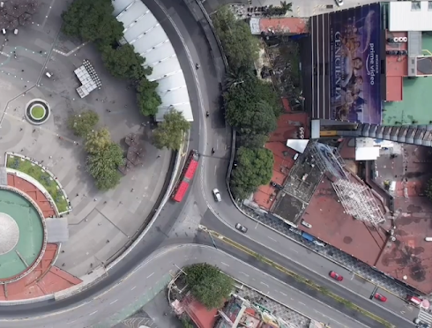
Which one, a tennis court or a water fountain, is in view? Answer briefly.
water fountain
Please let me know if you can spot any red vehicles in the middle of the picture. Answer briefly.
Yes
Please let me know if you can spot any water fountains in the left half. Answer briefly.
Yes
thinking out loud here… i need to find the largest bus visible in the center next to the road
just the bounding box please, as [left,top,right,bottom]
[169,150,199,202]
